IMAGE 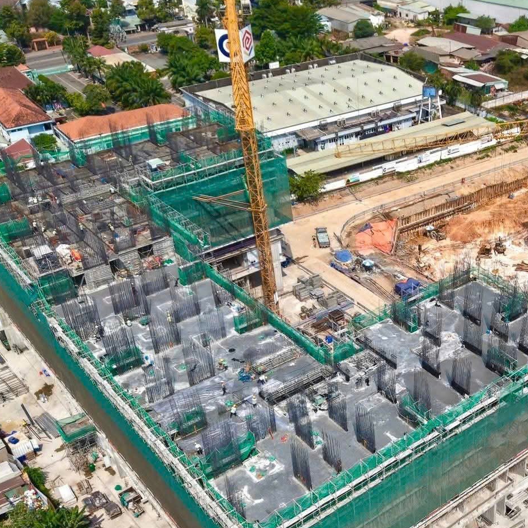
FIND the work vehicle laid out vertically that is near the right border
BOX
[493,223,508,256]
